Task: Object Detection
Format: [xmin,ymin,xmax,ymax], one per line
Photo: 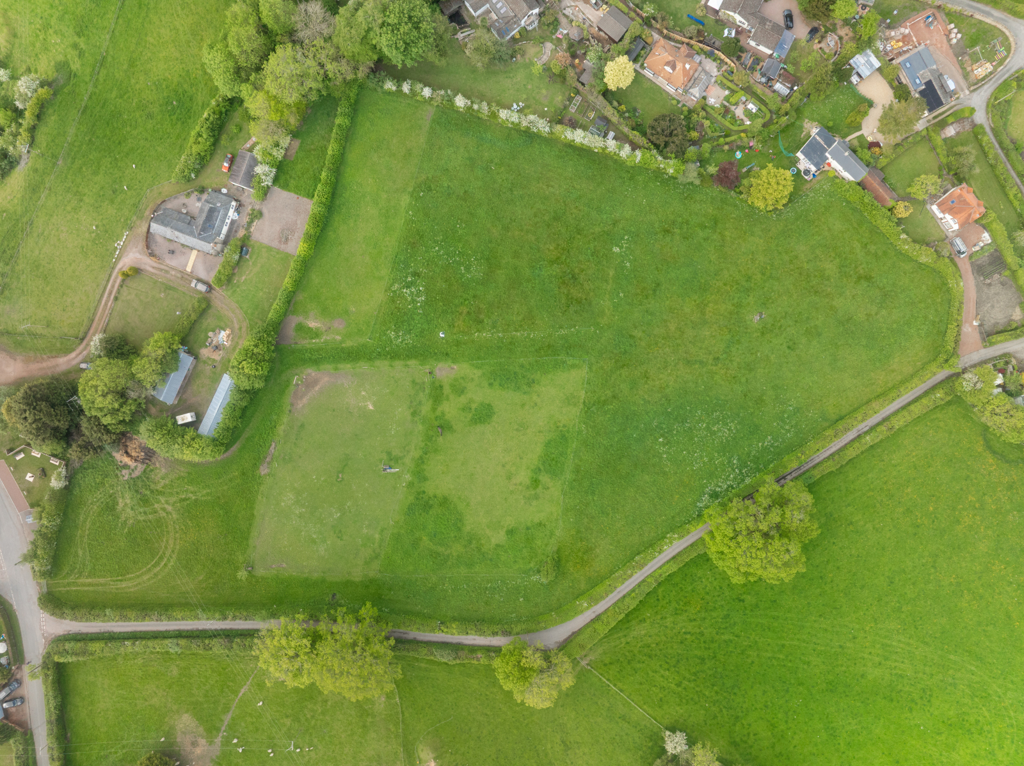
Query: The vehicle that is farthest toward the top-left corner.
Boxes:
[222,154,234,172]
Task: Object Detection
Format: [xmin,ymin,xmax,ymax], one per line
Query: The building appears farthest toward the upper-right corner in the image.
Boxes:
[898,47,955,115]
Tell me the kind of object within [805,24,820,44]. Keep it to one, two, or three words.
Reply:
car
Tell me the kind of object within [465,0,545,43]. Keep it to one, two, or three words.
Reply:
house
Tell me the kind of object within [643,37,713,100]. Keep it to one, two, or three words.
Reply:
house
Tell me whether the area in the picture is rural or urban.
rural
